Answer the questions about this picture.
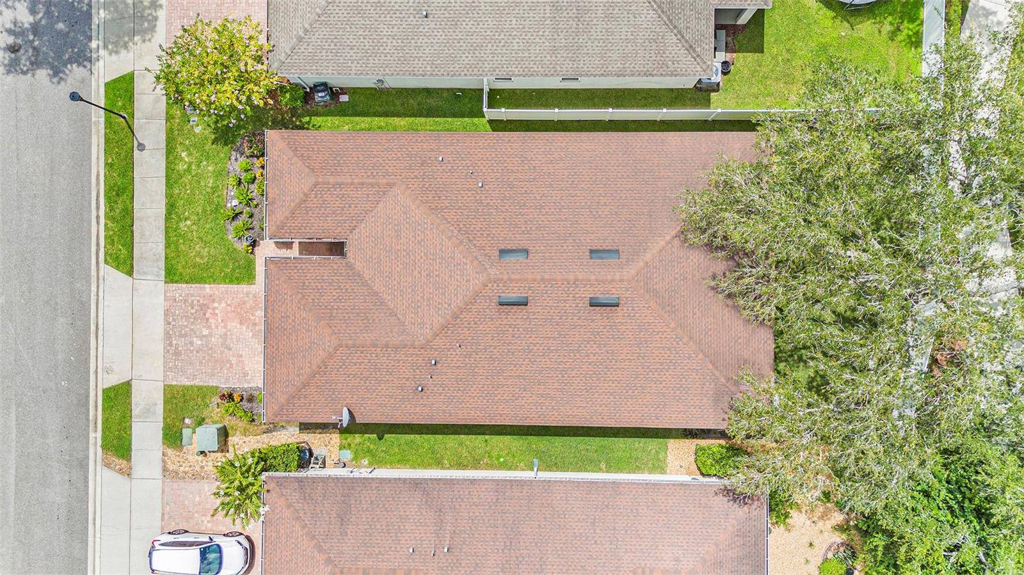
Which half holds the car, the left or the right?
left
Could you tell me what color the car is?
white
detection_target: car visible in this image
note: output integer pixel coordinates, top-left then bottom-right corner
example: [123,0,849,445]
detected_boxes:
[149,528,254,575]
